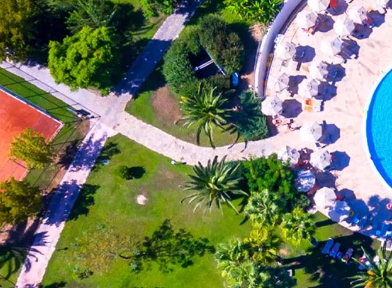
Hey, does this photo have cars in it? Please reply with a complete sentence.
No, the frame has no car in it.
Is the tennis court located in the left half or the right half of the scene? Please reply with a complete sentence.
The tennis court sits on the left side.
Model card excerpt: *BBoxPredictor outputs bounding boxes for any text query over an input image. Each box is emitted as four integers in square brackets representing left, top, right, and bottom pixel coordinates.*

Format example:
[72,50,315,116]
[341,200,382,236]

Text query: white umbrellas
[276,146,301,169]
[309,151,331,173]
[307,0,327,12]
[370,0,388,7]
[348,3,370,25]
[272,71,293,90]
[331,17,353,38]
[298,120,322,142]
[311,63,331,83]
[296,78,320,103]
[315,185,338,206]
[295,10,317,31]
[276,42,298,63]
[264,98,285,118]
[322,36,345,58]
